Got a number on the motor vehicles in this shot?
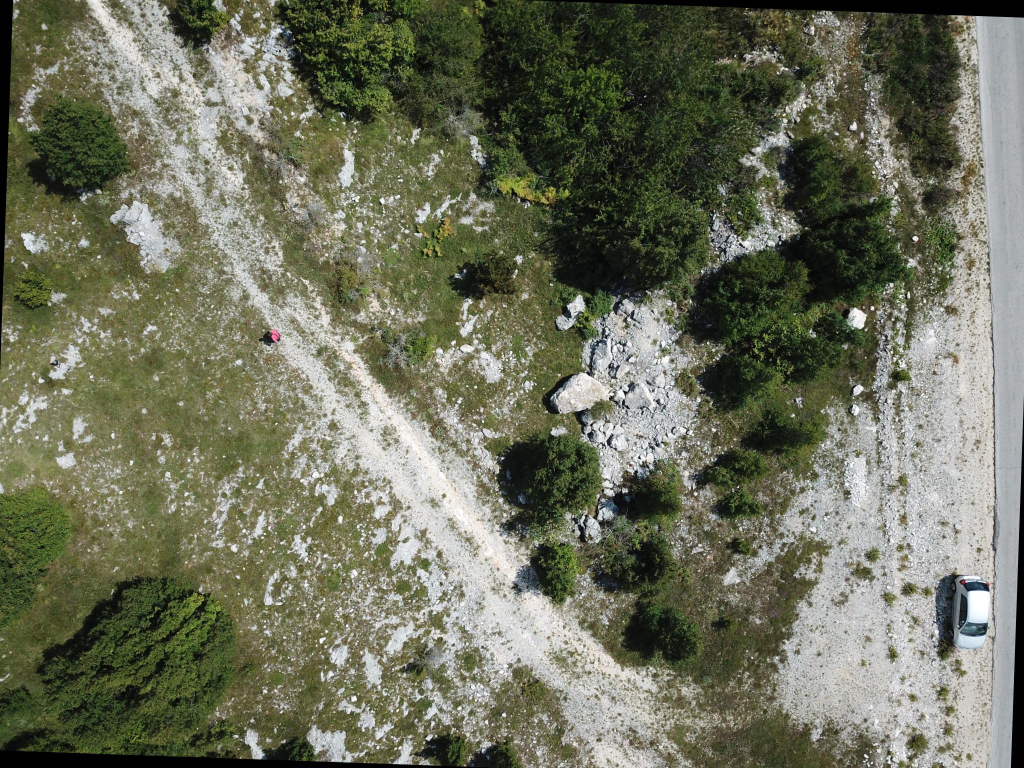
1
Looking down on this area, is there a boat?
No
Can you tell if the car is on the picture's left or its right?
right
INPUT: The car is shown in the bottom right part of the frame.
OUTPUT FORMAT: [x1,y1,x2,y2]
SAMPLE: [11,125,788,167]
[951,574,996,651]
